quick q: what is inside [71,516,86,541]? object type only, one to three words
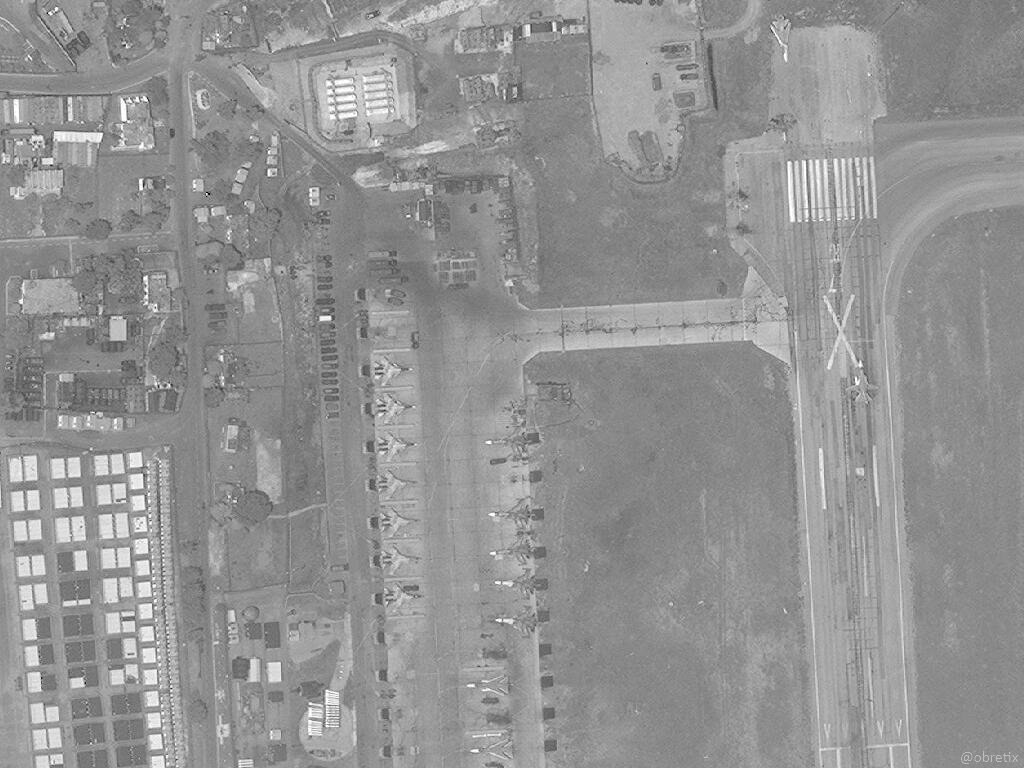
building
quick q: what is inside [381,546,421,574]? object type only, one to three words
airplane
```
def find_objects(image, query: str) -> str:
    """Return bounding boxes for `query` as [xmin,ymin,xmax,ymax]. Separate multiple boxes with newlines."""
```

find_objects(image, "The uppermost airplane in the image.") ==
[771,16,792,59]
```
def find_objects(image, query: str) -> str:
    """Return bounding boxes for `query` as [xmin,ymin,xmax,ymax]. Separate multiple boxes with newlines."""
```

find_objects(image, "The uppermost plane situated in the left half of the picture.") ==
[372,356,412,384]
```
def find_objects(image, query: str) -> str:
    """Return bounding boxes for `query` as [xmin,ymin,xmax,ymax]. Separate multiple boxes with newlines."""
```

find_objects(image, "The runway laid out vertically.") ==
[724,24,921,768]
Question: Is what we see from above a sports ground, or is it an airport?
airport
